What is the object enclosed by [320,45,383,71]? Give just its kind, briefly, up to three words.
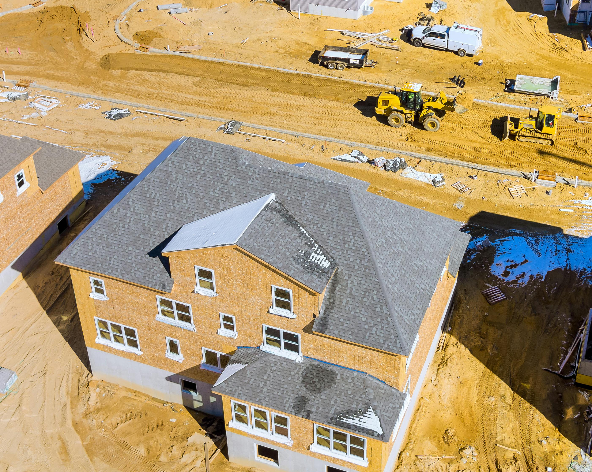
trailer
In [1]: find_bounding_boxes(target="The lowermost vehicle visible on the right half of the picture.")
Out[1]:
[509,106,557,146]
